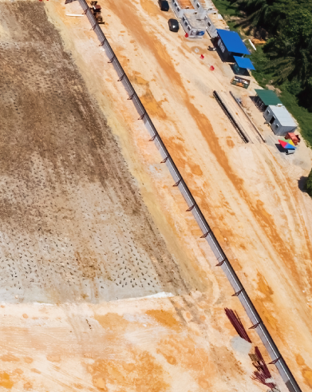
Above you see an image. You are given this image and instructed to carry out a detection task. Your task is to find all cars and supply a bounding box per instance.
[168,16,180,29]
[158,0,171,11]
